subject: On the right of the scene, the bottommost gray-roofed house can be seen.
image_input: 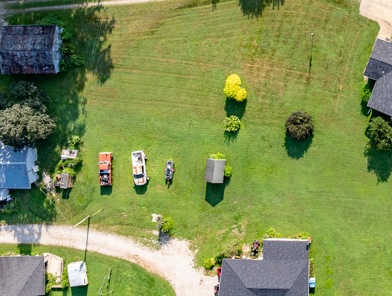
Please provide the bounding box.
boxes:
[219,240,314,296]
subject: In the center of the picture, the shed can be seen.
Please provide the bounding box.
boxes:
[204,156,226,184]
